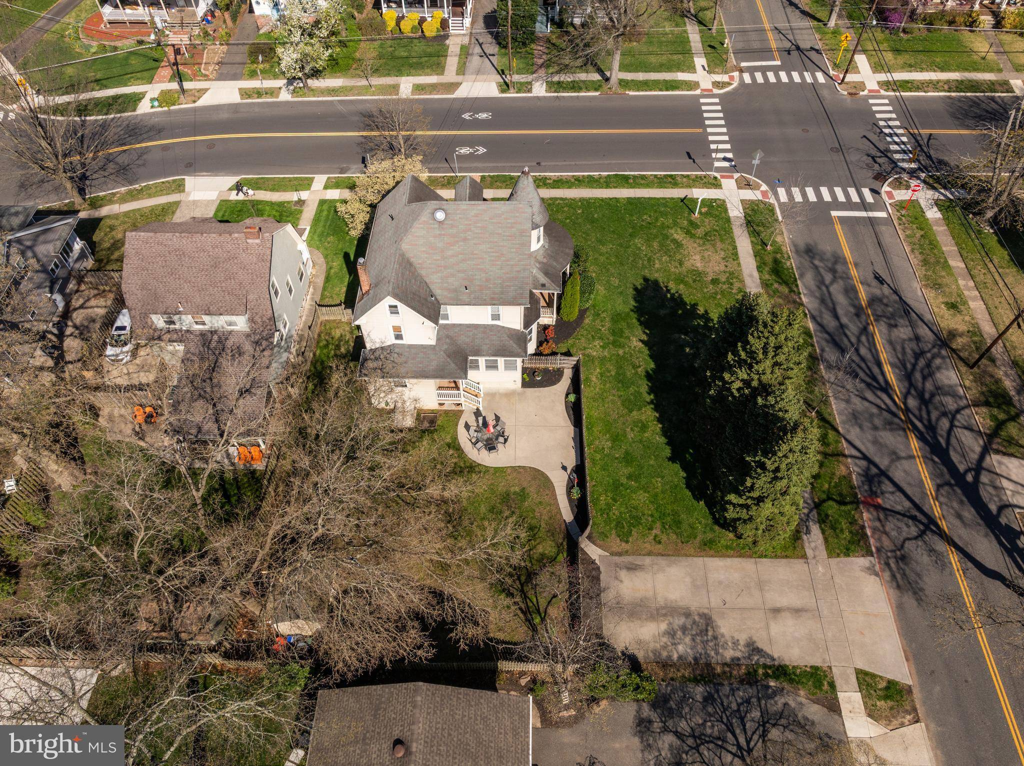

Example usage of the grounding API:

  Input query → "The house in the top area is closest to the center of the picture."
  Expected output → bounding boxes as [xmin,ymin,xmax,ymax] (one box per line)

[351,164,577,411]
